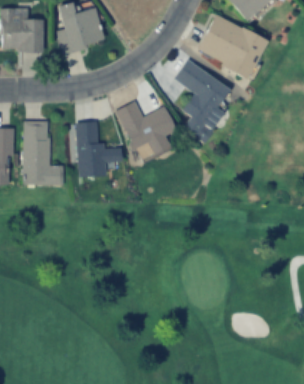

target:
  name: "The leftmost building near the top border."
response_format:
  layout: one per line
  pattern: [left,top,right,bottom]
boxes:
[0,6,44,52]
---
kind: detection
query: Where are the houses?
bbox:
[176,58,232,140]
[116,100,178,160]
[197,16,268,76]
[56,1,104,53]
[231,0,271,20]
[0,128,14,184]
[77,119,122,176]
[24,120,64,186]
[0,6,44,52]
